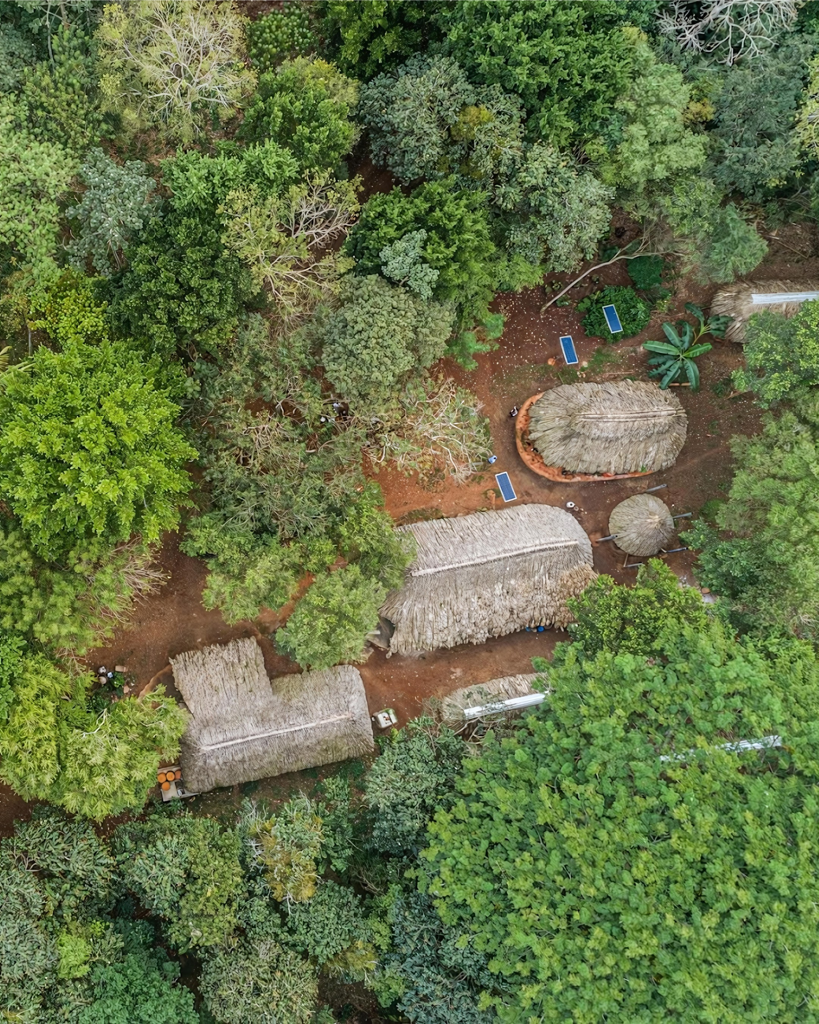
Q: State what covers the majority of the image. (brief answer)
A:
trees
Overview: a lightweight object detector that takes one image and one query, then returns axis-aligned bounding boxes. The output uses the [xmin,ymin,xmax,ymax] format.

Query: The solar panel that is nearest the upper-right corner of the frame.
[602,305,623,336]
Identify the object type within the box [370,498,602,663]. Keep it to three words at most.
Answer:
shed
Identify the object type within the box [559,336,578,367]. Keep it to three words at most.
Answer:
solar panel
